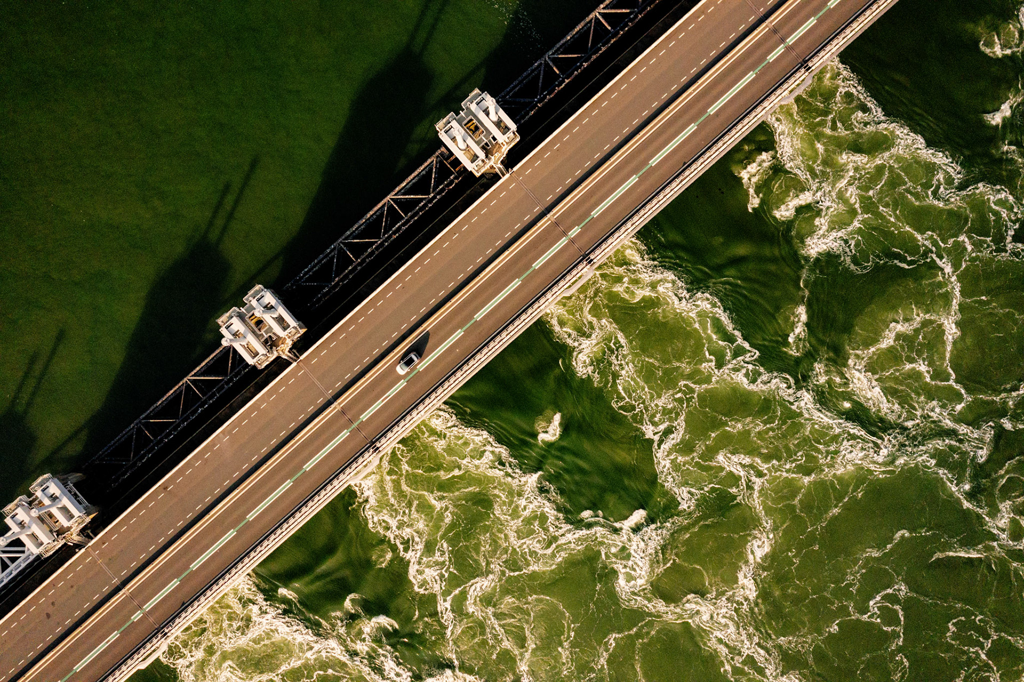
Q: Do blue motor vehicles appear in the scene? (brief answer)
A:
No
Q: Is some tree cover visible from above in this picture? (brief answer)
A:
No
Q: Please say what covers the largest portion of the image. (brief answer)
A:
water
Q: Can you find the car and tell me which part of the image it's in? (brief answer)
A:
center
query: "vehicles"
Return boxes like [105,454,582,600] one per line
[397,351,421,375]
